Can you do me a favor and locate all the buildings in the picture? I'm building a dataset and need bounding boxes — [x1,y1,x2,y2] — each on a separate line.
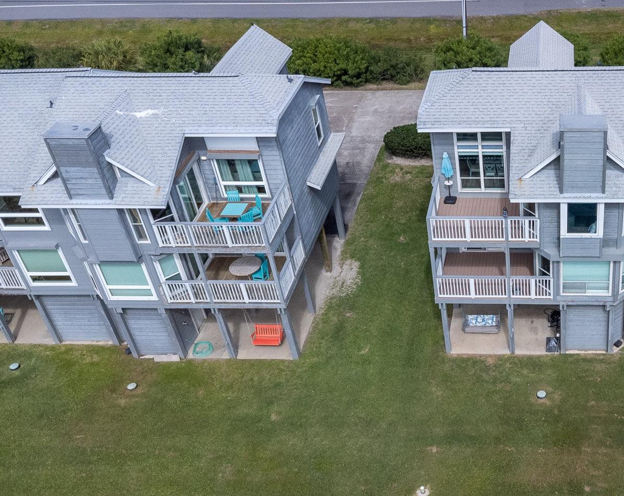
[20,25,349,358]
[416,20,624,353]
